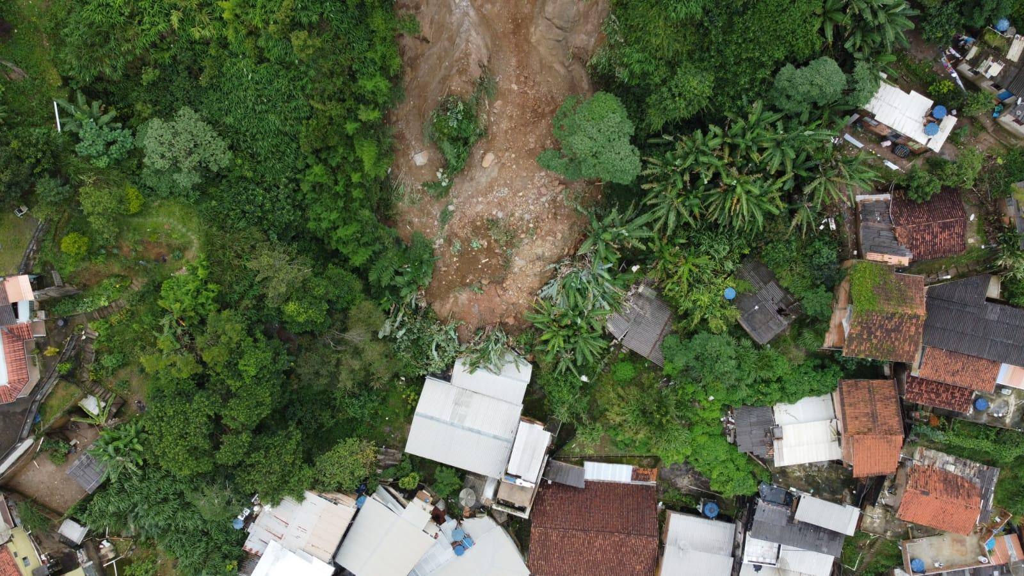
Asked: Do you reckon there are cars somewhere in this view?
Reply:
No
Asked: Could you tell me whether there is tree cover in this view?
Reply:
Yes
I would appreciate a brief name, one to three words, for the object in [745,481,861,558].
house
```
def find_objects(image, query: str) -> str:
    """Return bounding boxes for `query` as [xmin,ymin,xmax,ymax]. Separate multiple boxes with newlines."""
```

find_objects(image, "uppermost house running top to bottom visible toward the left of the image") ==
[0,275,62,404]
